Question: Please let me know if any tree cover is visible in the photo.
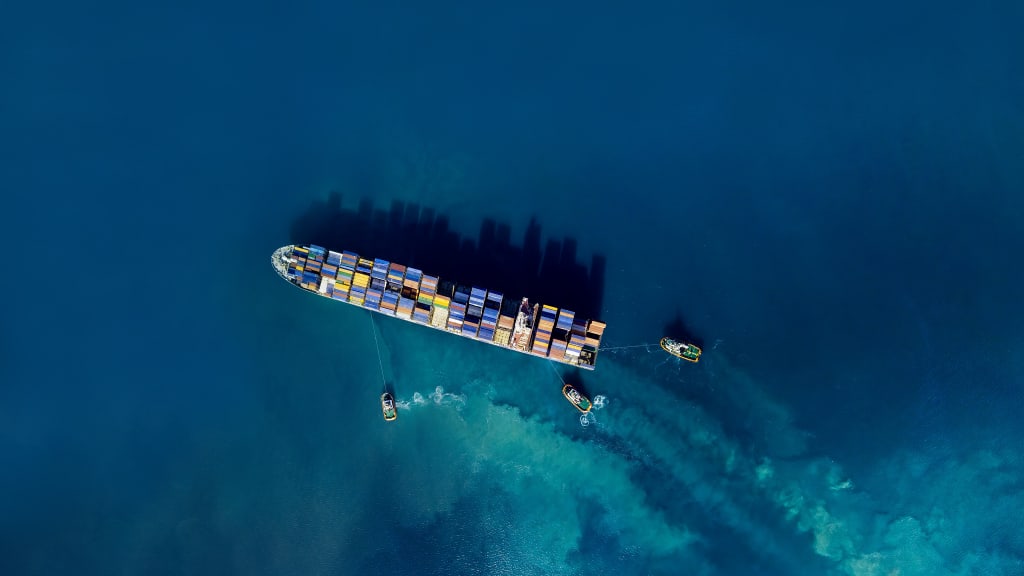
No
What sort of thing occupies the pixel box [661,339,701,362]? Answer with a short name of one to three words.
boat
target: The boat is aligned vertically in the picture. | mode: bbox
[381,393,396,421]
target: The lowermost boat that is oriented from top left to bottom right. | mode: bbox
[565,384,591,413]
